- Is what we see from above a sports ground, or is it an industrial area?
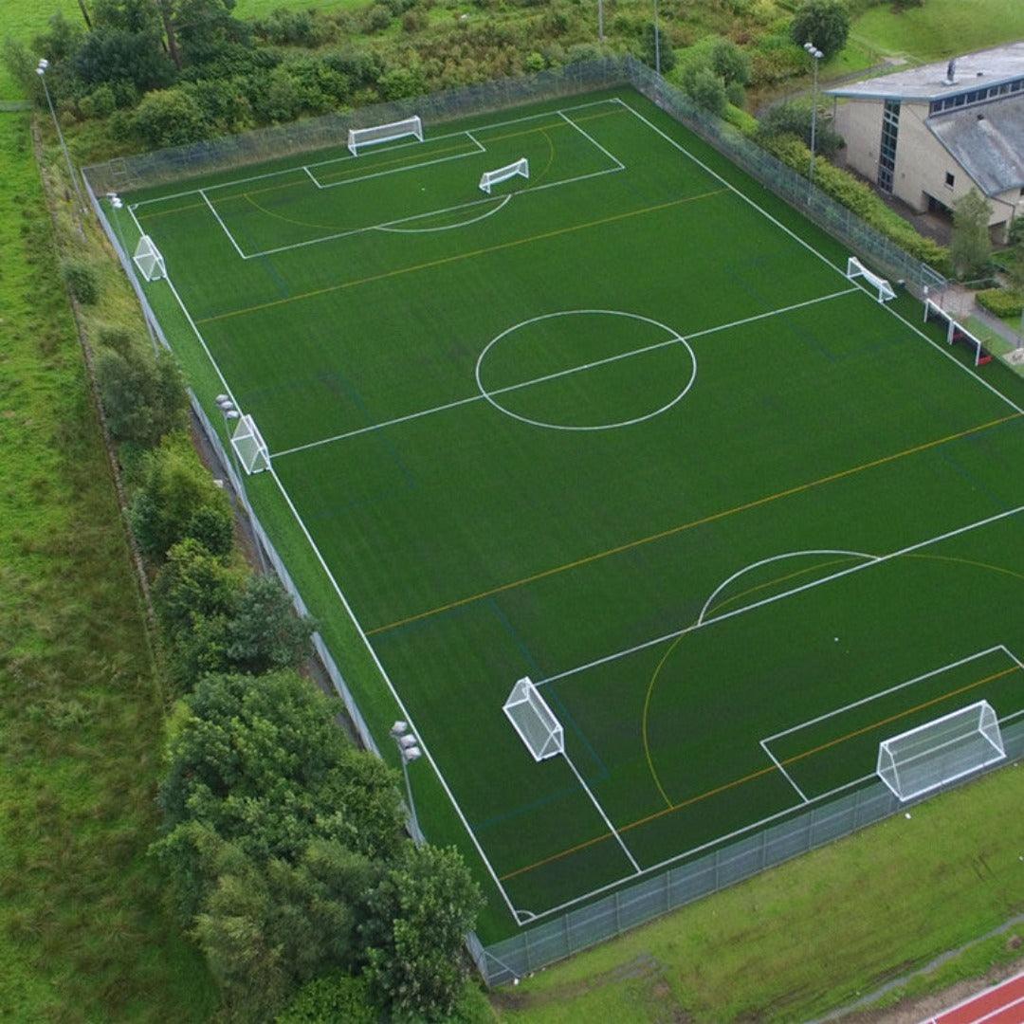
sports ground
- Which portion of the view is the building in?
top right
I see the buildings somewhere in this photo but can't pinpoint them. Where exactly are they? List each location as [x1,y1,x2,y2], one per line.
[818,50,1024,244]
